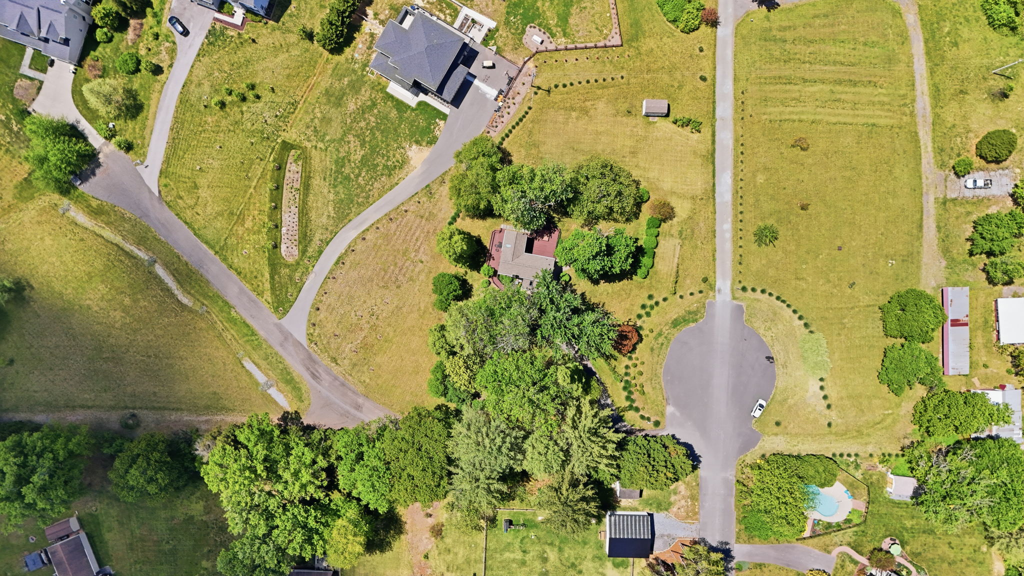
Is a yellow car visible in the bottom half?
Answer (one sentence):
No, there is no yellow car in the bottom half.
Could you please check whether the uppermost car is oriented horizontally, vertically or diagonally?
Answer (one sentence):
In this picture, the uppermost car lies diagonally.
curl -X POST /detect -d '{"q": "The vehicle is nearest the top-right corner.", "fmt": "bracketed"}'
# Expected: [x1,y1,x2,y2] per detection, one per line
[964,177,994,189]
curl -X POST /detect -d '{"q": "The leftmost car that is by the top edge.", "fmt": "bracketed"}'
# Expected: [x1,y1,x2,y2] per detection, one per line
[169,16,189,37]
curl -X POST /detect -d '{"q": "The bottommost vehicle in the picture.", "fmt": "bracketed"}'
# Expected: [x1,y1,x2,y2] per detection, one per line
[750,398,767,418]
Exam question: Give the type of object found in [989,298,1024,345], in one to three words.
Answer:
building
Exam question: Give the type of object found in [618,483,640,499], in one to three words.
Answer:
shed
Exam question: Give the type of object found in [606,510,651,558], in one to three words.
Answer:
barn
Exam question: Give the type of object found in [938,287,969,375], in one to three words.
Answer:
barn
